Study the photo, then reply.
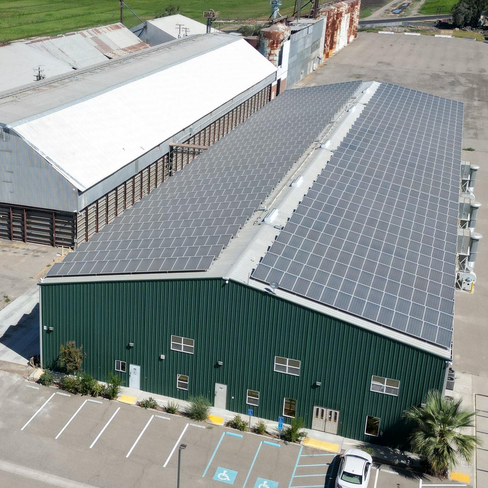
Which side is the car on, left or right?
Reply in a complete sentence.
The car appears in the right half of the scene.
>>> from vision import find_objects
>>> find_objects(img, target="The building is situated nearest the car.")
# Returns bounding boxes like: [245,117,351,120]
[31,79,464,452]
